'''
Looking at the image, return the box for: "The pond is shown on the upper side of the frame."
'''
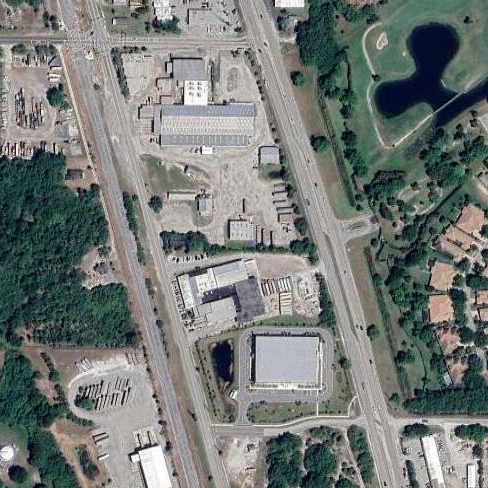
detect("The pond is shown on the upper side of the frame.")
[375,22,488,123]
